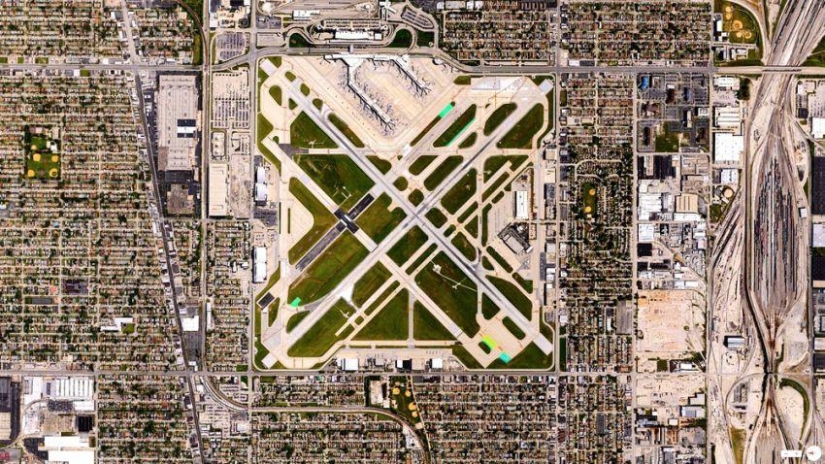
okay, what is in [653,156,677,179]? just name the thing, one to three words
building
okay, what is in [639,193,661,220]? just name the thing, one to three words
building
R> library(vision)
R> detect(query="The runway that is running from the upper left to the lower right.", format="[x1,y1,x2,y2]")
[261,135,491,367]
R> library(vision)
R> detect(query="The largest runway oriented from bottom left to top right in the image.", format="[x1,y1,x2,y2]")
[272,82,543,358]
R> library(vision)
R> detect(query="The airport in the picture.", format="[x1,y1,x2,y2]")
[253,54,555,371]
